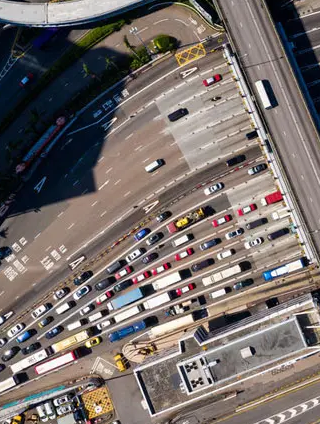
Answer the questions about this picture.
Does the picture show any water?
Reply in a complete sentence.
No, no water is visible.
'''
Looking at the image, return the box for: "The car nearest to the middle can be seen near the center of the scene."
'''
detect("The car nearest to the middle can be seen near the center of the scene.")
[155,210,173,224]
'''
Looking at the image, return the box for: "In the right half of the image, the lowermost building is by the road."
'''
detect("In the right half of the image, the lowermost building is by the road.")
[134,292,320,416]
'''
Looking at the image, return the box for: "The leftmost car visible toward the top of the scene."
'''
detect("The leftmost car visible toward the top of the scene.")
[19,71,35,89]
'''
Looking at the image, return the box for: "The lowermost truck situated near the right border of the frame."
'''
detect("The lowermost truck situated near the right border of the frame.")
[262,259,305,281]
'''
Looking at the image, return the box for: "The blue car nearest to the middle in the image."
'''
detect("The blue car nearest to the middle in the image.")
[134,228,151,243]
